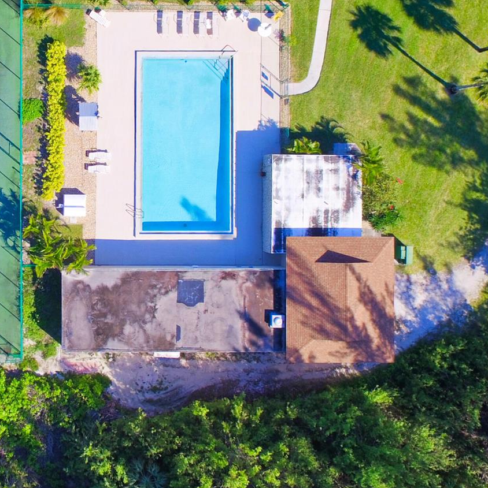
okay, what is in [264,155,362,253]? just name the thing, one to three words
building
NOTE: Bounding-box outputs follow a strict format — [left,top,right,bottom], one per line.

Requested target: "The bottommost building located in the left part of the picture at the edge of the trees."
[62,267,286,358]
